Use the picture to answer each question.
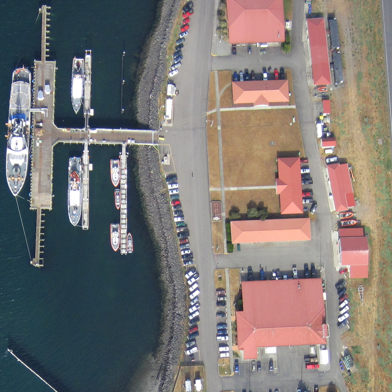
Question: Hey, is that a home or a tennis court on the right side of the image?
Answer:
home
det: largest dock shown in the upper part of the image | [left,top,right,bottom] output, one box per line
[29,6,159,267]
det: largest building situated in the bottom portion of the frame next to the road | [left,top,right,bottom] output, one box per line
[235,278,330,359]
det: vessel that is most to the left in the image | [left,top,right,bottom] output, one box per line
[5,64,30,196]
